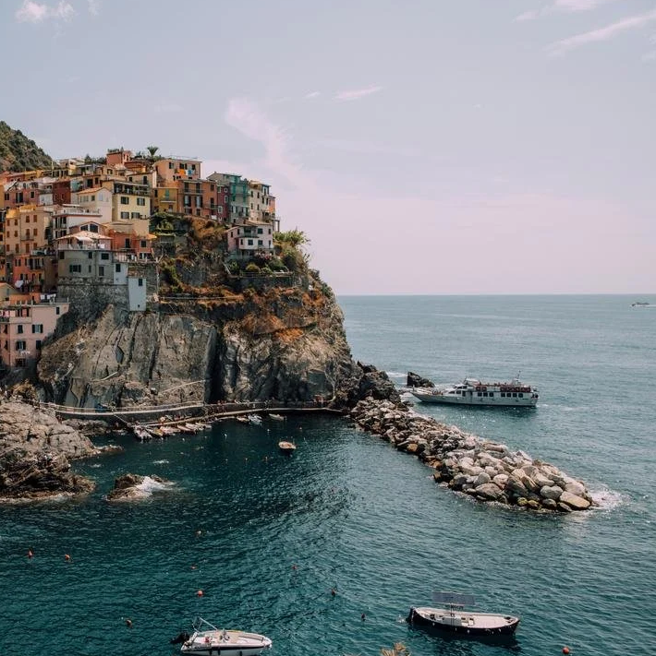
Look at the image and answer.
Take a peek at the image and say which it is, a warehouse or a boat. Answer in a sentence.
It is a boat that can be seen here.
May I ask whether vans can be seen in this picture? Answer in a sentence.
No, the scene contains no van.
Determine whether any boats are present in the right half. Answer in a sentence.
Yes, a boat shows up in the right half.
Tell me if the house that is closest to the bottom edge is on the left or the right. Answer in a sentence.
It is on the left.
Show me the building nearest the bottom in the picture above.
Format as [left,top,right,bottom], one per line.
[0,300,69,373]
